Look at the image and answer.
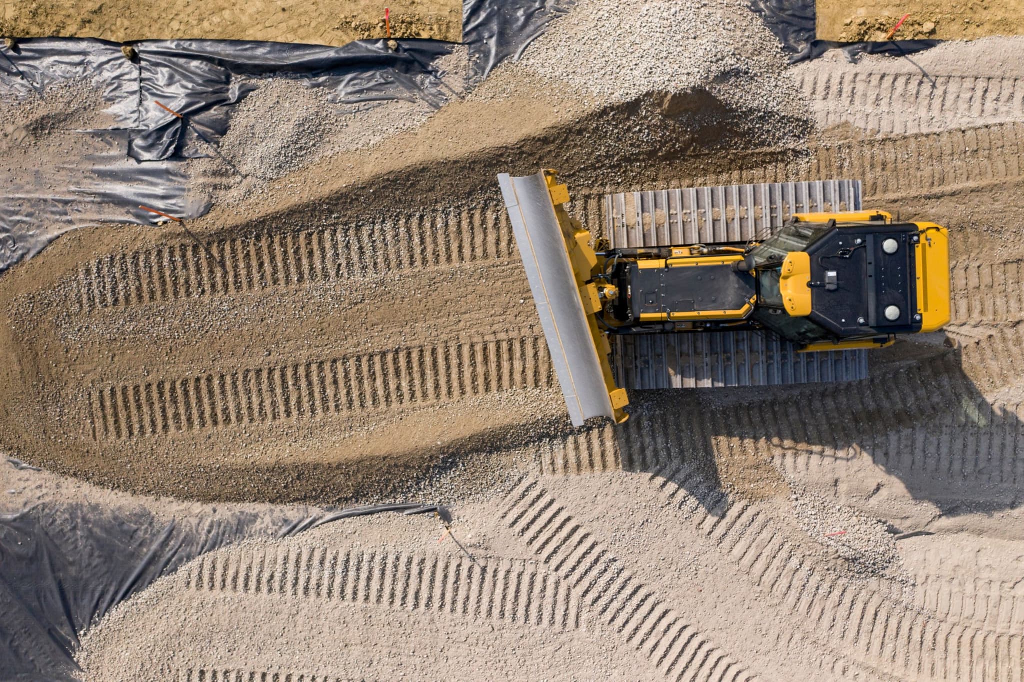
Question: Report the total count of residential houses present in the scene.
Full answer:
The photo contains no residential houses.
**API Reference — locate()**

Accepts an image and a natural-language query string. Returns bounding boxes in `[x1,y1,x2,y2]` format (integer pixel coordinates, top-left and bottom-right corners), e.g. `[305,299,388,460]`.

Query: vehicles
[498,168,949,427]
